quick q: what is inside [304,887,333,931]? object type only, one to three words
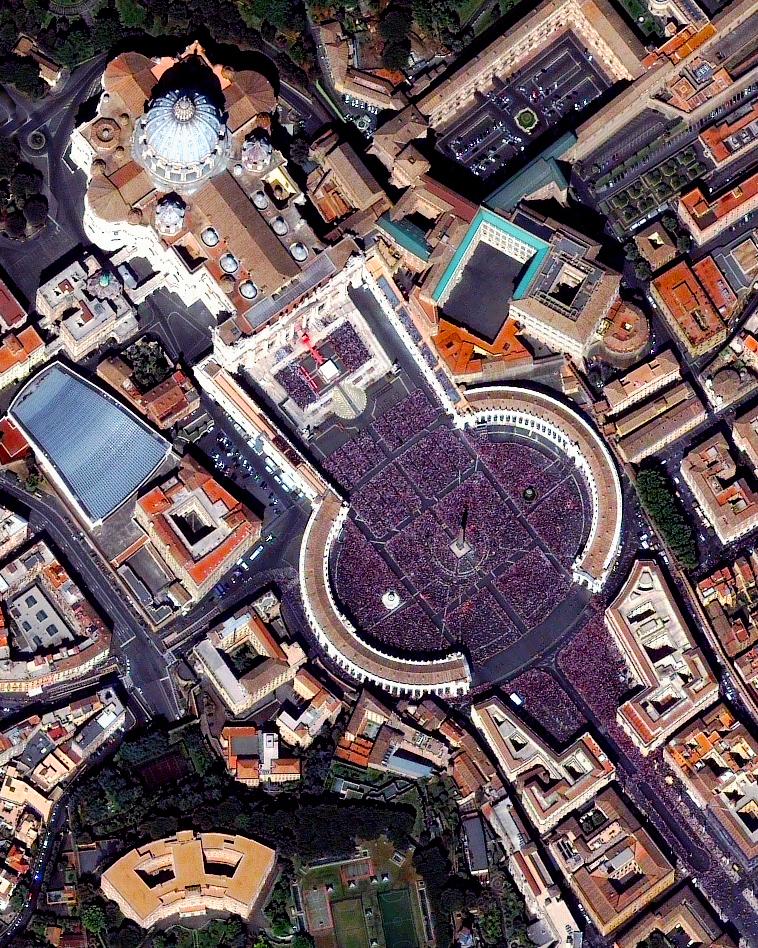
basketball court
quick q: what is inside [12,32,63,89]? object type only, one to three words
house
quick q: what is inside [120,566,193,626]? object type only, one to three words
building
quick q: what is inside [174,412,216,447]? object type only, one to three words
shed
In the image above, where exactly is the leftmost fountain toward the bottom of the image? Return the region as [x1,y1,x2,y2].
[381,592,402,610]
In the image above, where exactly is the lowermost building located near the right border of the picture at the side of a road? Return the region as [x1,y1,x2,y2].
[615,884,740,948]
